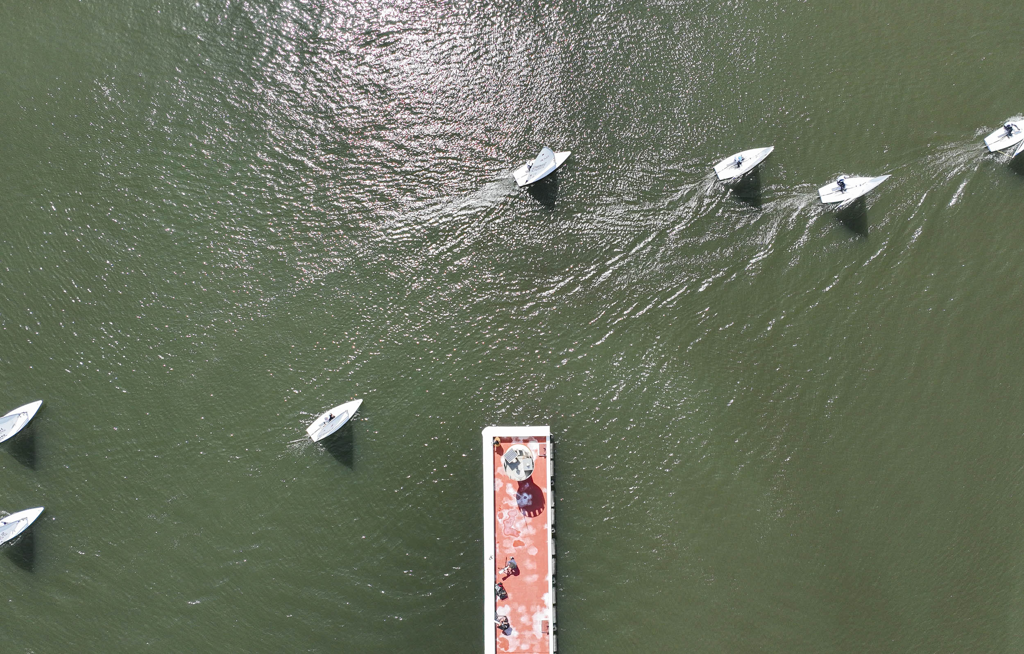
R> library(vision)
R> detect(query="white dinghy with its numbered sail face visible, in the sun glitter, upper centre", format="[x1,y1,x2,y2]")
[513,142,571,186]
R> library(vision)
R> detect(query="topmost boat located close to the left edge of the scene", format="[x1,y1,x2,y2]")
[0,400,44,442]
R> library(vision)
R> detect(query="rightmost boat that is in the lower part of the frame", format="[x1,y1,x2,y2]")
[307,400,362,442]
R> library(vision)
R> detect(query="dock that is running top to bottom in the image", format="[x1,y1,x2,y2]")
[482,426,554,654]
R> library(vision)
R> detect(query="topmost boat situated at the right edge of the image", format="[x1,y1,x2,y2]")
[982,116,1024,157]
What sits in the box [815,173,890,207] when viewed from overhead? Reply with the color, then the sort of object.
white boat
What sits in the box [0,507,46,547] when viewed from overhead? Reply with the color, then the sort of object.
white boat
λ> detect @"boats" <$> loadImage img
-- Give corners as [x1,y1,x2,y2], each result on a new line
[0,400,44,442]
[712,142,774,180]
[513,142,571,186]
[815,173,890,207]
[982,116,1024,157]
[307,400,362,442]
[0,507,46,547]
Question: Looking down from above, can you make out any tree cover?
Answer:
No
